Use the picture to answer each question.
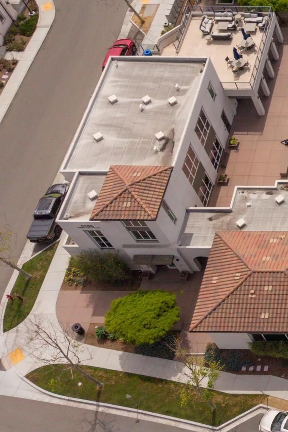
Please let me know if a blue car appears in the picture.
No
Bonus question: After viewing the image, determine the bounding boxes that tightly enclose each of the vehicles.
[257,412,288,432]
[95,37,128,73]
[19,185,65,244]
